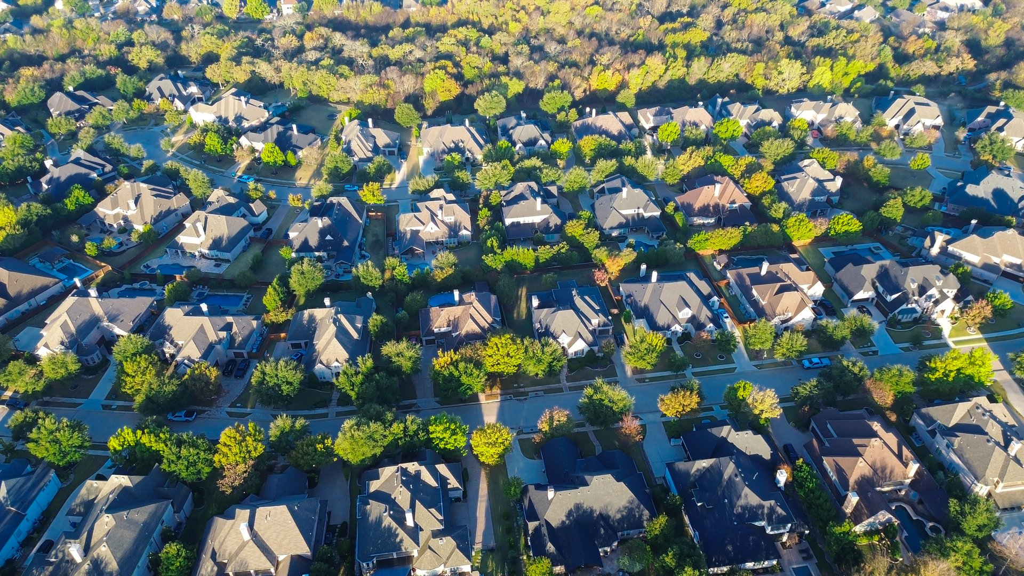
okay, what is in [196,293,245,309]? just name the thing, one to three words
swimming pool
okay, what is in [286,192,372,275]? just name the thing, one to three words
house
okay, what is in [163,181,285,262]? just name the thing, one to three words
house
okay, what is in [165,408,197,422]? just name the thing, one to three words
vehicle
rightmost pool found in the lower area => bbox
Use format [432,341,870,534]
[893,506,950,552]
